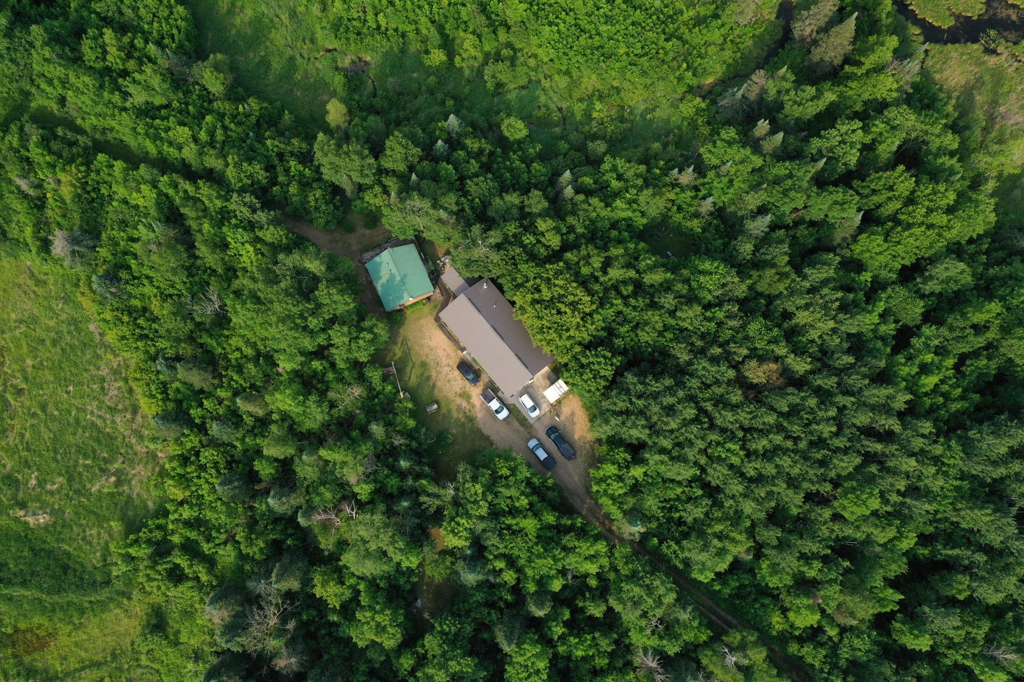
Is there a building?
Yes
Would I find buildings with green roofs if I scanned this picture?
Yes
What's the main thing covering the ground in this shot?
trees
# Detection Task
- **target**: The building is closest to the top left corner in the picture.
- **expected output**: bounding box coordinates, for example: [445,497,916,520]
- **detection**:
[365,244,434,311]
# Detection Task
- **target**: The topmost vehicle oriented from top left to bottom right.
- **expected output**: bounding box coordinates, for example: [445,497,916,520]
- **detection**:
[455,359,481,389]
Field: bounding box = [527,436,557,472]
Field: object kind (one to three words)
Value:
truck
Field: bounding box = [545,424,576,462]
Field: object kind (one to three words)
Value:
truck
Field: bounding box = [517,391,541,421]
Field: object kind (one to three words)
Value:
car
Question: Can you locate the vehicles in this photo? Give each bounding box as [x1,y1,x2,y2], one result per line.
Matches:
[478,386,510,421]
[455,359,481,389]
[545,424,576,462]
[517,391,541,421]
[527,436,557,472]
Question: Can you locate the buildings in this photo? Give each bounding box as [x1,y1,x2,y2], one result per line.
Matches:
[365,244,434,311]
[439,277,557,399]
